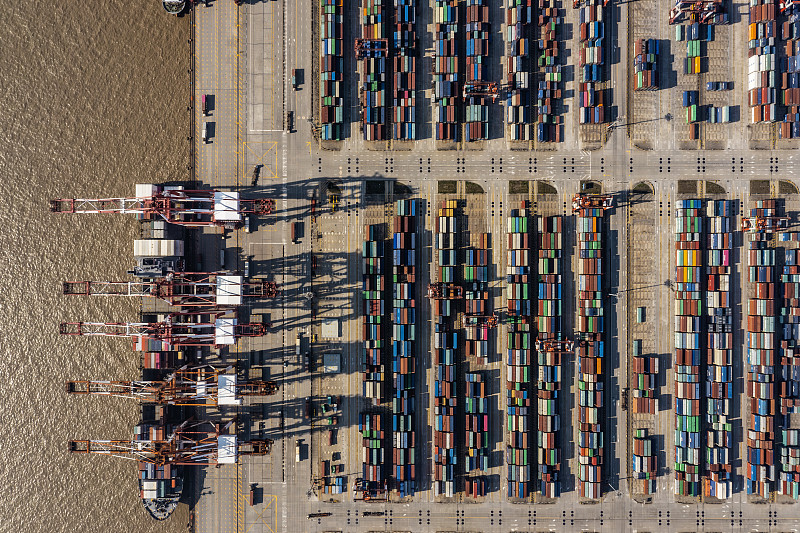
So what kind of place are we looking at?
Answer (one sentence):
It's a port.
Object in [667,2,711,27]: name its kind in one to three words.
crane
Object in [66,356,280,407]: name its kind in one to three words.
container crane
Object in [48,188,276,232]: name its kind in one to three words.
container crane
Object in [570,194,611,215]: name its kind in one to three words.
crane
